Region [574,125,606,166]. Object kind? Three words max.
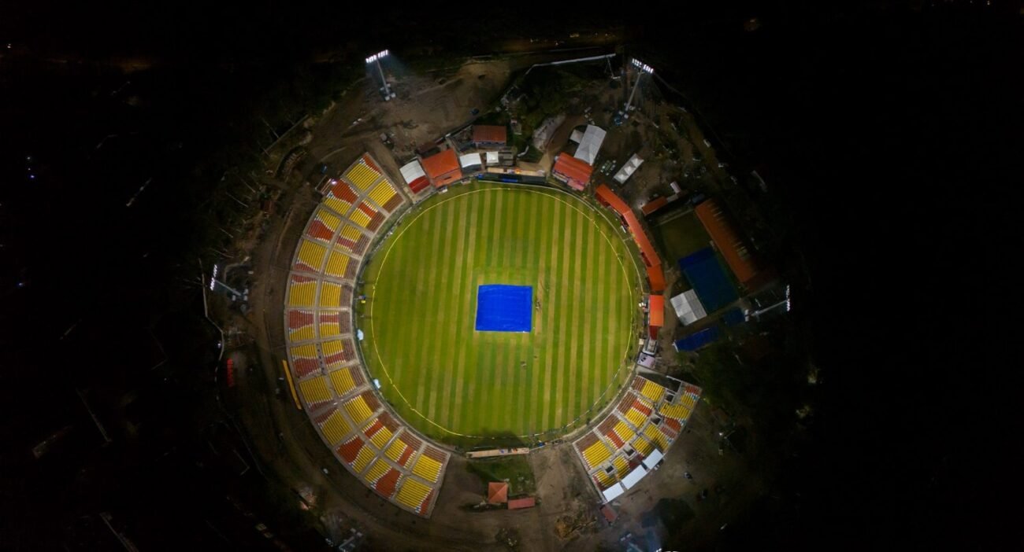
tent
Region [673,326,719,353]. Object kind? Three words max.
shed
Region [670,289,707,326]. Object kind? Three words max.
barn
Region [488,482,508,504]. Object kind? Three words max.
building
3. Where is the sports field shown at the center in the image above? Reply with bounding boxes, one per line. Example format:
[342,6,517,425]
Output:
[357,183,644,453]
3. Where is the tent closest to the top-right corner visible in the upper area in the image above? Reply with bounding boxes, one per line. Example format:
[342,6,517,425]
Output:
[613,153,644,184]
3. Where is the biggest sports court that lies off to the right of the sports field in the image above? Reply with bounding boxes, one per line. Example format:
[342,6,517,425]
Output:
[685,254,739,312]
